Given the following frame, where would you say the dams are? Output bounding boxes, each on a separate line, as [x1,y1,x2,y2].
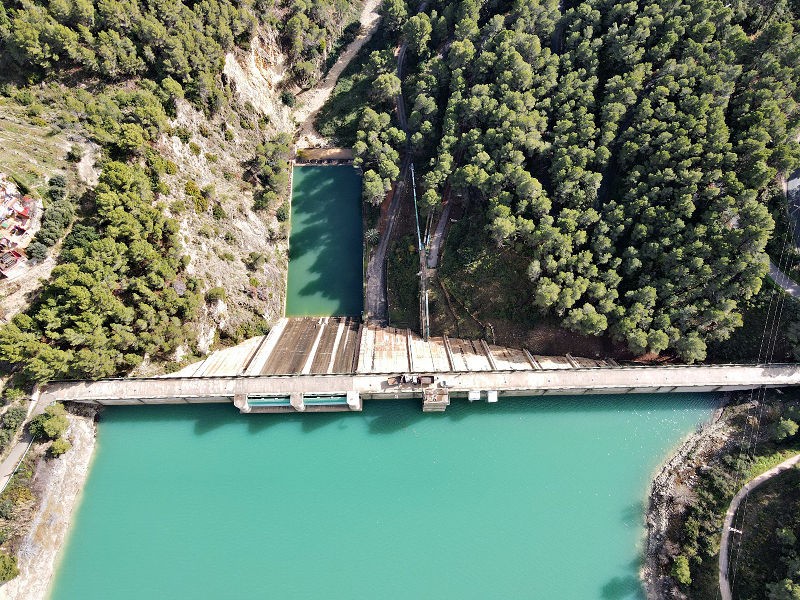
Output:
[46,312,800,415]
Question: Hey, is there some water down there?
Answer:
Yes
